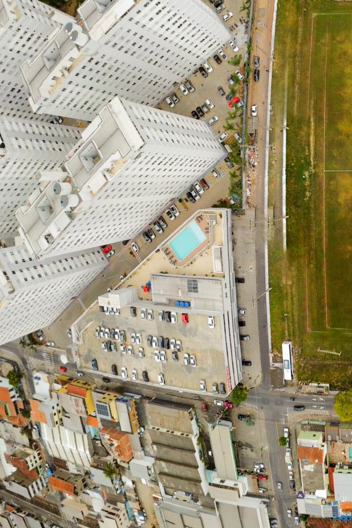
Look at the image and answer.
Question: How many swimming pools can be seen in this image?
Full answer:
The count comes to 1 swimming pool.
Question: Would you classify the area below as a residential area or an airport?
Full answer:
This image shows a residential area.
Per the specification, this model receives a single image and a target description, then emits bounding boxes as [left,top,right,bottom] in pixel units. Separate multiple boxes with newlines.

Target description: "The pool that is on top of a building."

[163,217,212,267]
